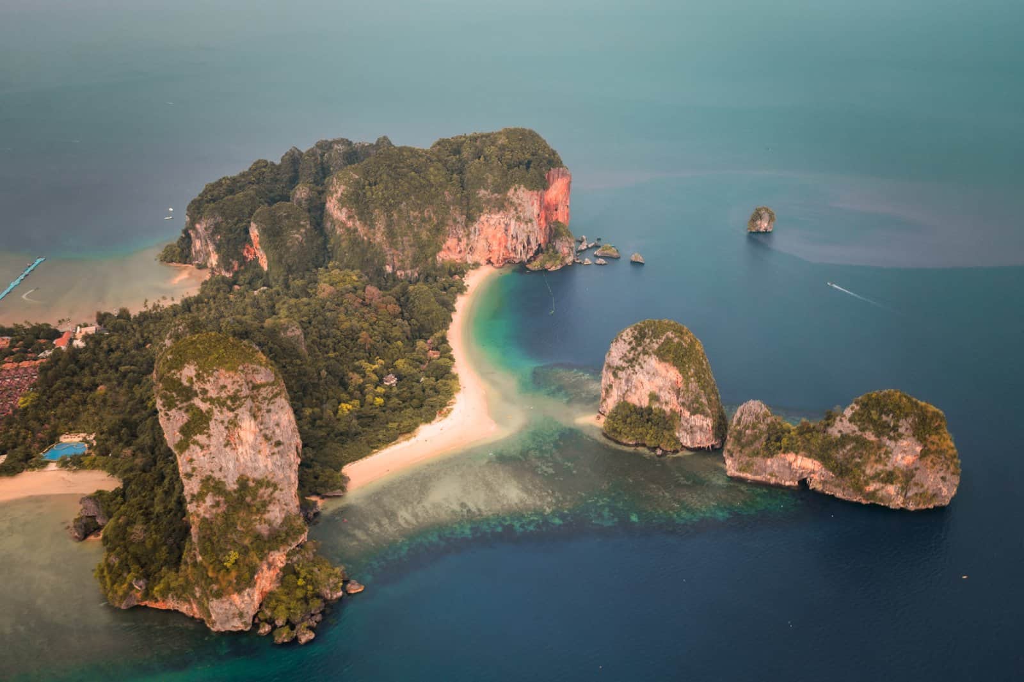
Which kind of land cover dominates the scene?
water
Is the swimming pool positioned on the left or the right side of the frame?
left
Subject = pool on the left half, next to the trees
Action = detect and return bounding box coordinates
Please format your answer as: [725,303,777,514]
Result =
[42,438,86,458]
